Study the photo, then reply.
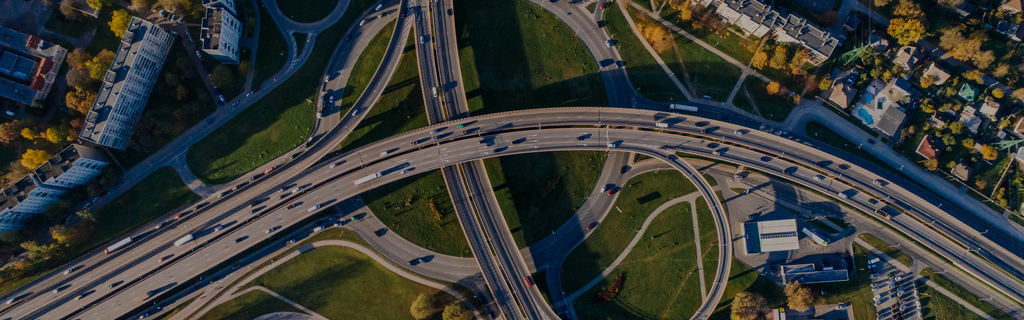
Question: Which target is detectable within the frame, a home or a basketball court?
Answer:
home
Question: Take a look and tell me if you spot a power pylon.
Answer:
Yes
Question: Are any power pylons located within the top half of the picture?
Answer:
Yes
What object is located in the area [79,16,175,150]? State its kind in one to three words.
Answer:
building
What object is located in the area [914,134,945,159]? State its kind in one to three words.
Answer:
house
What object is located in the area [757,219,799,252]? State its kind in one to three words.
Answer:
building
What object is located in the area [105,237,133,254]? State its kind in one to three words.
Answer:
vehicle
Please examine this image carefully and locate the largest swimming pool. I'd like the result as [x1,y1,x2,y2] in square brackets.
[857,107,874,126]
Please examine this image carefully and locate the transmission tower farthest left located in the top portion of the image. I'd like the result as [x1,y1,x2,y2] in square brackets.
[837,43,871,67]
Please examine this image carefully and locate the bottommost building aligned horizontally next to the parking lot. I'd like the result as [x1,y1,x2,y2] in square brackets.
[779,264,848,283]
